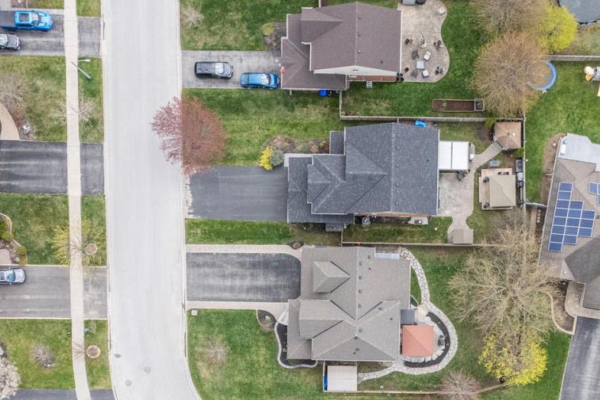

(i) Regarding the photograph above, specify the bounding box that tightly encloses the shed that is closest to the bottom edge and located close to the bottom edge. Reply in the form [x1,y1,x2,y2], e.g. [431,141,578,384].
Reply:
[326,364,357,392]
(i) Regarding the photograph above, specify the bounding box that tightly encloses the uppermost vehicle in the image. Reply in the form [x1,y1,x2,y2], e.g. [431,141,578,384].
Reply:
[0,10,54,32]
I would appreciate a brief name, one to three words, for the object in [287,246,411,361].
house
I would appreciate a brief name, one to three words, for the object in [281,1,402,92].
house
